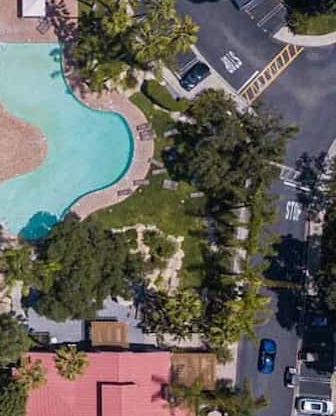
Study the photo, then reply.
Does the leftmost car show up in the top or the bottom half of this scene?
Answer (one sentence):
The leftmost car is in the top half of the image.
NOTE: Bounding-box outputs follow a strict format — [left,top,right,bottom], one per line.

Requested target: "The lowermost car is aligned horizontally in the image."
[295,396,333,415]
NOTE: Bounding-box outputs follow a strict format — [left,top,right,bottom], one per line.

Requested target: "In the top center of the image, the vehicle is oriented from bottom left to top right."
[177,60,211,90]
